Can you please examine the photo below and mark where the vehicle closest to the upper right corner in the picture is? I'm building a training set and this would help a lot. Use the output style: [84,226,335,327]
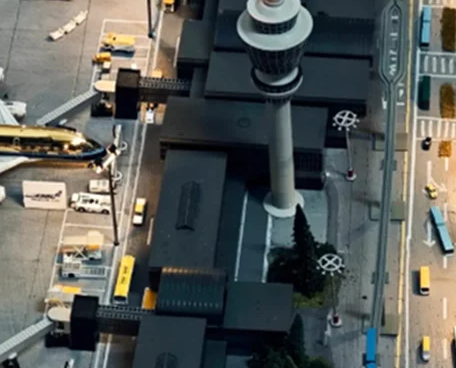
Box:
[418,7,432,51]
